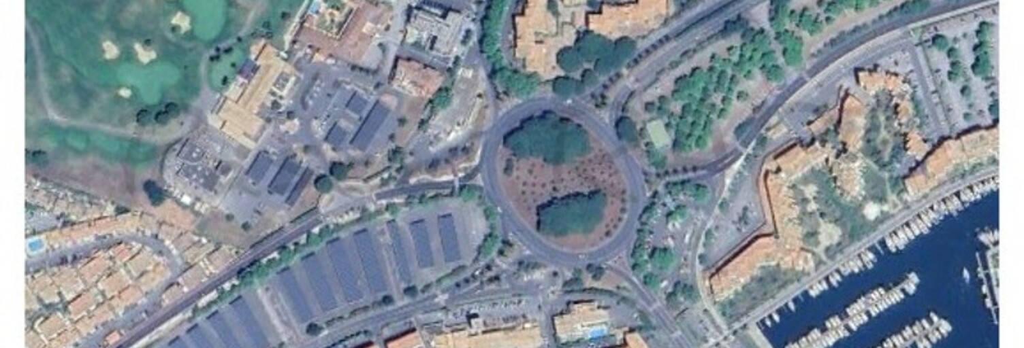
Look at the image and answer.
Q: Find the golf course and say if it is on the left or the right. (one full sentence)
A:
The golf course is on the left side of the image.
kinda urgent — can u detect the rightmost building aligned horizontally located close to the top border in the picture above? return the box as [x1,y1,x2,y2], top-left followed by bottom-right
[588,0,670,39]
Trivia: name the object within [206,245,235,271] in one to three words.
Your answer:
house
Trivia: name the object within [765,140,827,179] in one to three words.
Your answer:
building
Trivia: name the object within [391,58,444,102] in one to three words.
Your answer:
house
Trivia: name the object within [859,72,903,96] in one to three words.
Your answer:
building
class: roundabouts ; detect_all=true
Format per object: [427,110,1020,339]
[477,95,651,281]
